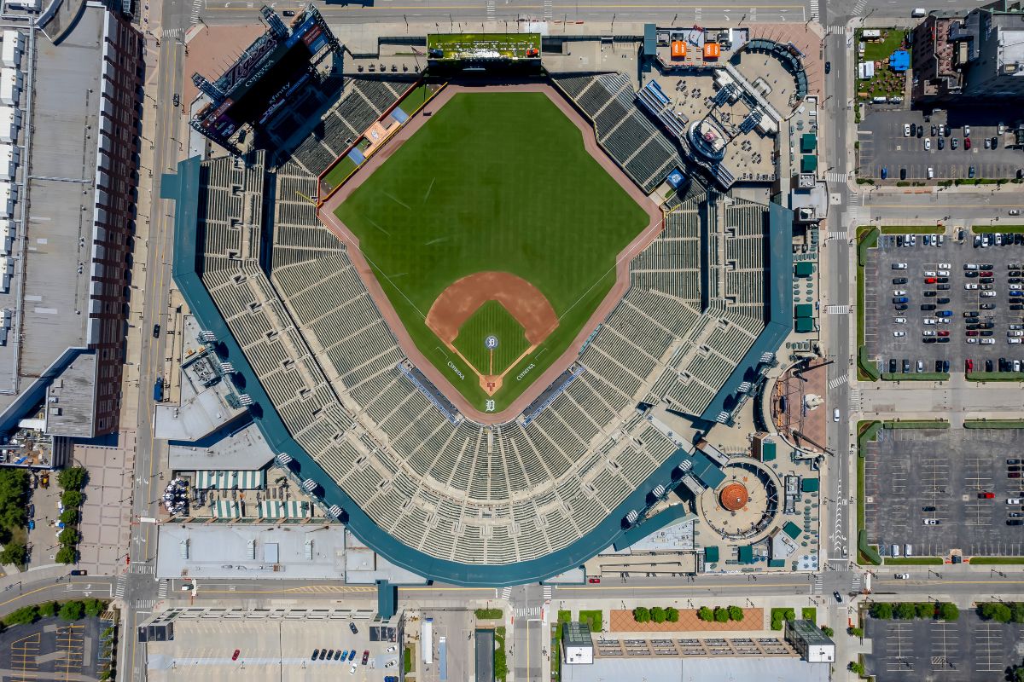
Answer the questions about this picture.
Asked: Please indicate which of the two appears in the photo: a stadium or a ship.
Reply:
stadium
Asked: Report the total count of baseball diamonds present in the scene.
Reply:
1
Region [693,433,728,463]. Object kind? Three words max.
building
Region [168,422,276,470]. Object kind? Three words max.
building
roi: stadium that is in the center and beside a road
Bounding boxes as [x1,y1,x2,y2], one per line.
[160,73,792,587]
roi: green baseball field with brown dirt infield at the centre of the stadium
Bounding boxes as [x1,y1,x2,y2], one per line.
[304,71,675,427]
